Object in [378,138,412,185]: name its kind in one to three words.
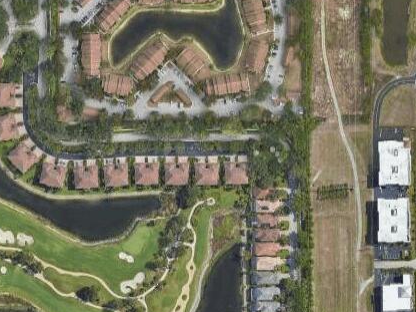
building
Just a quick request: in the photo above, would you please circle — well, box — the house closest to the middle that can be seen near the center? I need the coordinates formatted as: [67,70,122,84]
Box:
[196,159,220,186]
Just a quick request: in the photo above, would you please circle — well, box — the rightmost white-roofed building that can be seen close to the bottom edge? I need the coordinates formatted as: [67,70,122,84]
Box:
[383,274,411,312]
